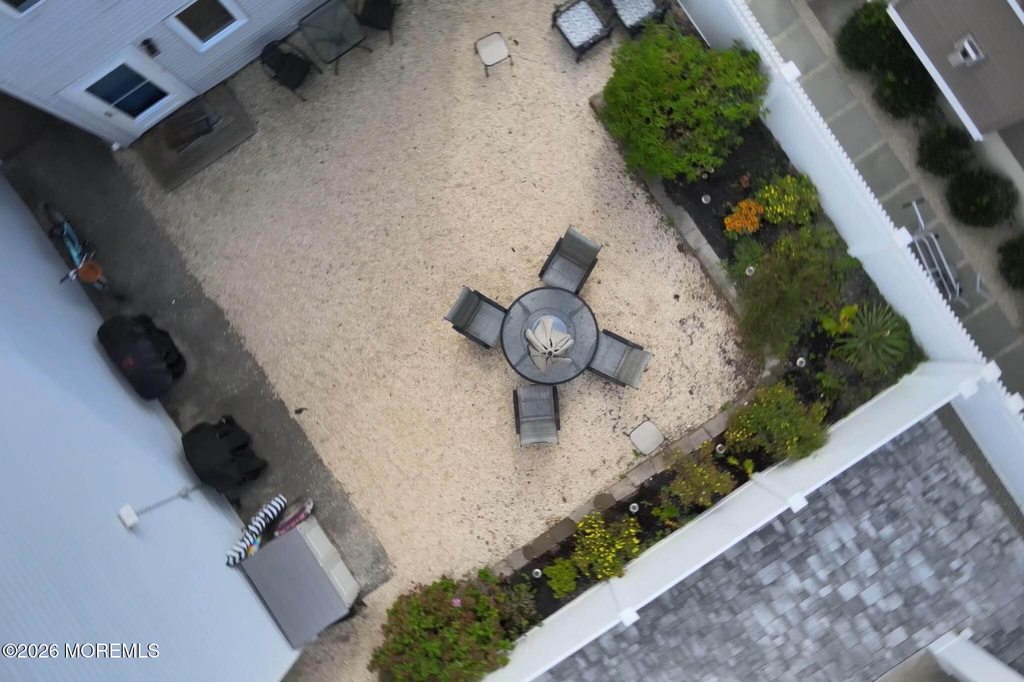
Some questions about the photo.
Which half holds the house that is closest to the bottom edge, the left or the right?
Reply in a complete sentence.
The house that is closest to the bottom edge appears in the right half of the scene.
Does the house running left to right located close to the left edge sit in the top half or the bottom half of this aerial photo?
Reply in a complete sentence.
Seen from above, the house running left to right located close to the left edge lies in the top half of the view.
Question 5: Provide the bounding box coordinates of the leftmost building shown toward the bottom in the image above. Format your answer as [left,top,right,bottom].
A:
[0,174,299,682]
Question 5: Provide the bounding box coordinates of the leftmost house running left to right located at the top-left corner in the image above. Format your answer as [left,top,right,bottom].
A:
[0,0,330,151]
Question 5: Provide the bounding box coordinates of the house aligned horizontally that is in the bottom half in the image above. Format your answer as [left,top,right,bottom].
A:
[875,618,1019,682]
